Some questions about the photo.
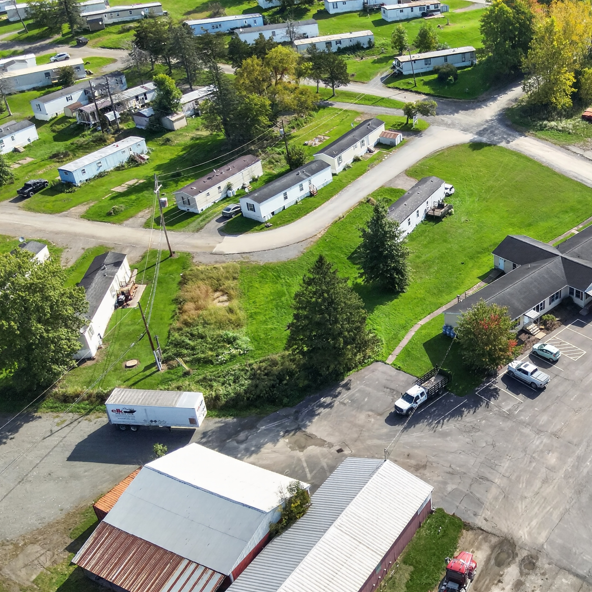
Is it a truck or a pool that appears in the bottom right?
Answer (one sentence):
The one visible in the bottom right is a truck.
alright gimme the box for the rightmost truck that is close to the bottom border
[443,546,487,592]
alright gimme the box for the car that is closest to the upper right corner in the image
[439,177,460,198]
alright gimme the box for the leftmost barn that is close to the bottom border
[71,443,310,592]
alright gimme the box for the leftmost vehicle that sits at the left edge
[11,181,54,201]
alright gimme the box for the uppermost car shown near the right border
[530,342,563,364]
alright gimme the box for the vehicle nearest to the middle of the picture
[217,202,244,218]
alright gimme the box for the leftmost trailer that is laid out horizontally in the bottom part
[105,388,207,430]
